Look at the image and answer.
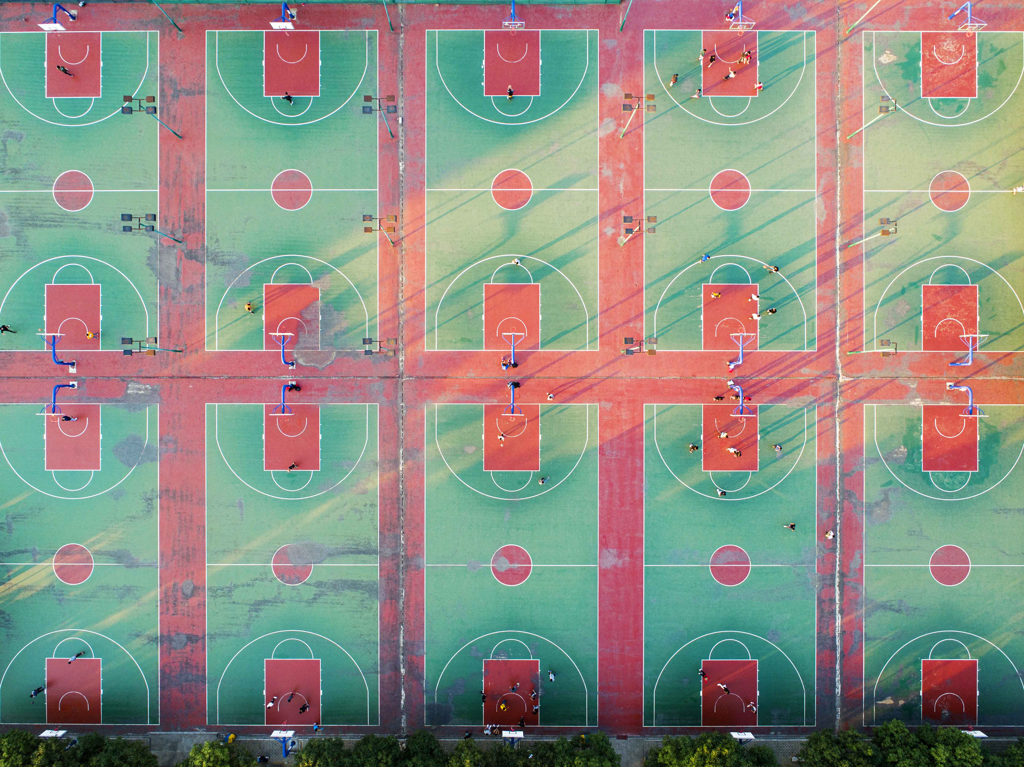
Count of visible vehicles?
0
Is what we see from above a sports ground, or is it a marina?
sports ground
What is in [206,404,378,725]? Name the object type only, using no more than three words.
basketball court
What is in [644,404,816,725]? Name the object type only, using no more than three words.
basketball court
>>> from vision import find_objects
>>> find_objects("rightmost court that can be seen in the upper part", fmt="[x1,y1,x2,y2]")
[864,30,1024,351]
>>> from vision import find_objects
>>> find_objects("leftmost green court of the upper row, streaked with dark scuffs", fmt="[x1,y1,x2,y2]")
[0,30,159,351]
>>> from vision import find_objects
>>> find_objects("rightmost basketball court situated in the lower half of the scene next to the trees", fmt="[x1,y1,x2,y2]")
[864,404,1024,725]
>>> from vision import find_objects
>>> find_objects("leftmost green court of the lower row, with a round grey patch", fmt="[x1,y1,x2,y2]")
[0,404,159,725]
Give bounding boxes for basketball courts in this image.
[206,30,378,351]
[864,404,1024,725]
[644,404,816,725]
[864,30,1024,351]
[0,30,159,351]
[206,404,378,725]
[644,30,816,351]
[426,30,598,351]
[0,404,159,725]
[426,404,597,725]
